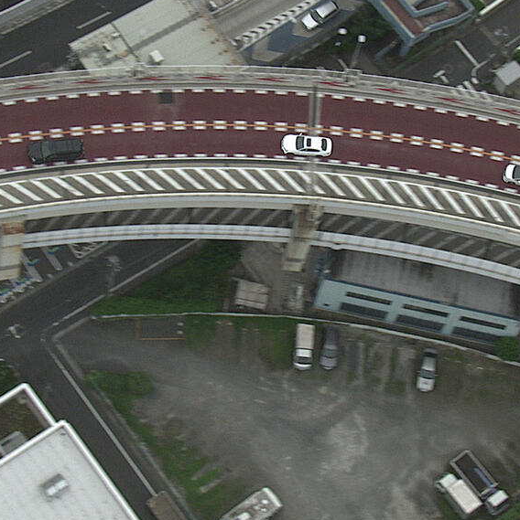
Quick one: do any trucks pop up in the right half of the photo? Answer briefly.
Yes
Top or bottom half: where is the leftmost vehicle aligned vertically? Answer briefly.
bottom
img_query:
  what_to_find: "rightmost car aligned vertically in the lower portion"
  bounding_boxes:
[417,347,441,393]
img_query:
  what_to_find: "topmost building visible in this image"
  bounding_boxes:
[66,0,244,69]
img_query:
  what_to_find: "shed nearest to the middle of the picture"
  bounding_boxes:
[232,278,268,320]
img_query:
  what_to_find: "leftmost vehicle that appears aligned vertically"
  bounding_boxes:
[294,320,316,370]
